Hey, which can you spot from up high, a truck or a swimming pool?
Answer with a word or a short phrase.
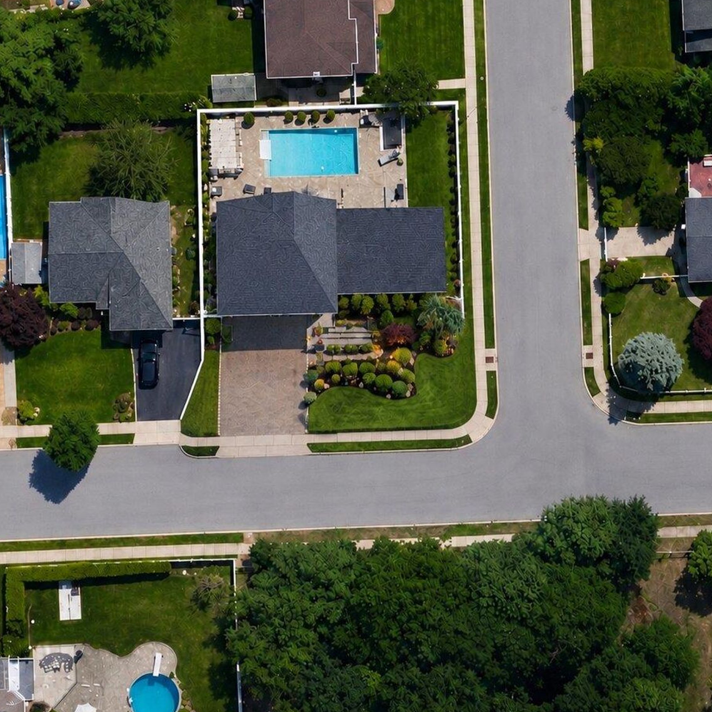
swimming pool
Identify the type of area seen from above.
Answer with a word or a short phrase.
residential area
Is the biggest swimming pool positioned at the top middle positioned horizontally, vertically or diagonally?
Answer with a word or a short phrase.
horizontally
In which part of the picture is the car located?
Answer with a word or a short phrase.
left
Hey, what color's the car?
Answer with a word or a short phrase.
black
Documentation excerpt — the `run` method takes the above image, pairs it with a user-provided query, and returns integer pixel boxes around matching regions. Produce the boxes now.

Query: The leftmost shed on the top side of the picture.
[11,242,42,285]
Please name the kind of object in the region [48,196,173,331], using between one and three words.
house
